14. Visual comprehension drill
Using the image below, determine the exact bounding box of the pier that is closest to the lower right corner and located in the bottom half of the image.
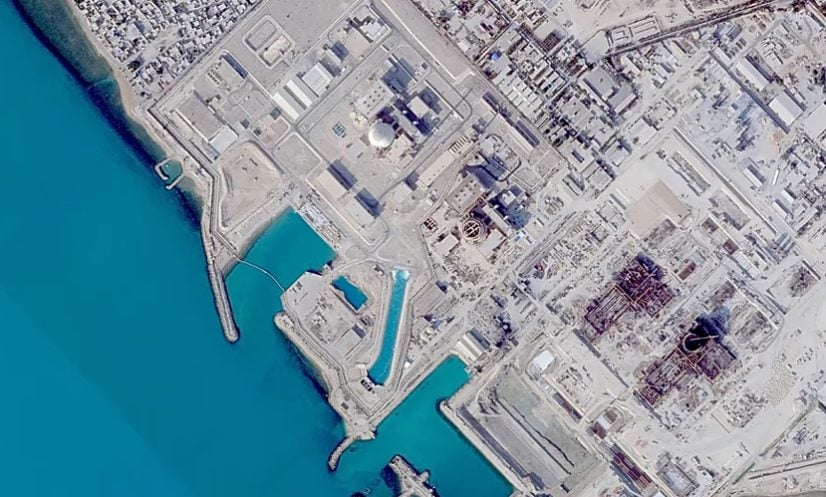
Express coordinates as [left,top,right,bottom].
[390,455,437,497]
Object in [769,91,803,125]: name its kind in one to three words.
building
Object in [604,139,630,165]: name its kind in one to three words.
house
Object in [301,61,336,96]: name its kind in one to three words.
hangar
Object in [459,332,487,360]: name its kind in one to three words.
shed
